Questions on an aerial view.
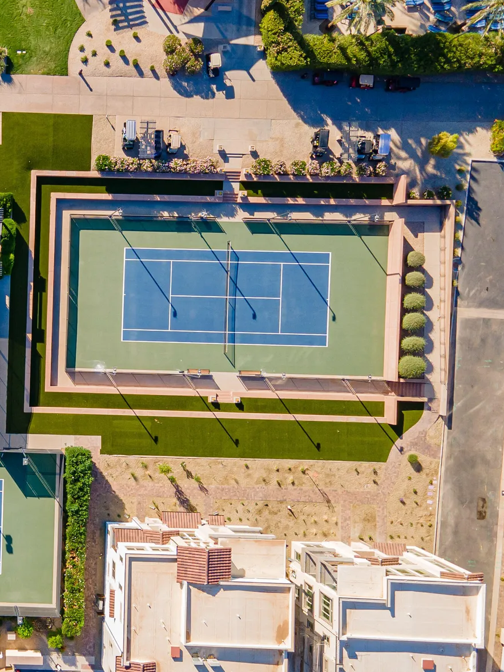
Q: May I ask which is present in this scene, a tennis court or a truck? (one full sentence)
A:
Looking from above, you can make out a tennis court.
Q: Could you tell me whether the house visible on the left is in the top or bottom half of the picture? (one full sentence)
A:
It is in the bottom half that the house visible on the left appears.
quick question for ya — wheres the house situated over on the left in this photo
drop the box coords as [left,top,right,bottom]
[98,510,298,672]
